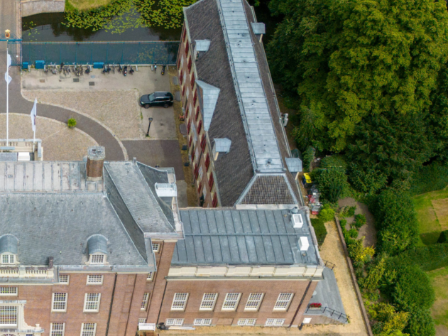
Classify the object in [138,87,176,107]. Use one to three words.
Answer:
car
